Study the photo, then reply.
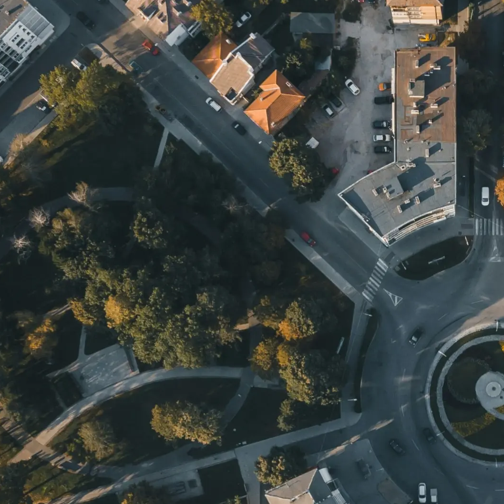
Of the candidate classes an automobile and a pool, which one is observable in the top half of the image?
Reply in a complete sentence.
Visible in the top half of the image is an automobile.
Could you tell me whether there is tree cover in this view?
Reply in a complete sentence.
Yes, tree cover can be seen from above here.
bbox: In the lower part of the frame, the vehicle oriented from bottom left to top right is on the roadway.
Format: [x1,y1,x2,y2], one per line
[410,328,423,344]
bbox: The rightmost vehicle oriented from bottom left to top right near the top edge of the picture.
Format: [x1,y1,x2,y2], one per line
[236,12,253,29]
